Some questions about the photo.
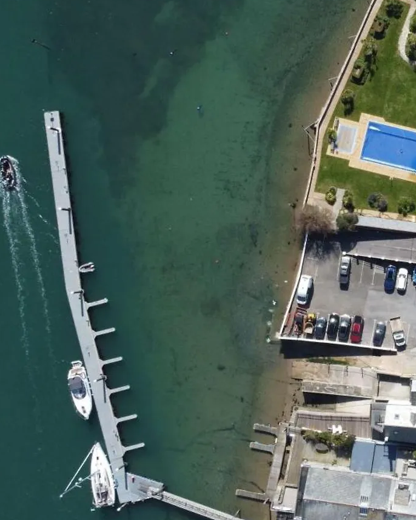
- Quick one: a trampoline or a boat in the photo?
boat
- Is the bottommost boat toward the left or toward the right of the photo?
left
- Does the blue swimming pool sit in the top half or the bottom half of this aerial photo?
top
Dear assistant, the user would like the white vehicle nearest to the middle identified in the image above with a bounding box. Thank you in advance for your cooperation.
[294,277,315,304]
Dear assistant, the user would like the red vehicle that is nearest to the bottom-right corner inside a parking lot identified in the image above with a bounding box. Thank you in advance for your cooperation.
[349,317,366,343]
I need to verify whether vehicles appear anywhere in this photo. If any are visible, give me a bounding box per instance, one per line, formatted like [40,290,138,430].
[339,257,352,286]
[396,269,409,292]
[325,313,340,341]
[386,318,406,349]
[294,277,315,304]
[372,321,388,345]
[303,317,315,339]
[291,305,303,334]
[383,266,397,291]
[315,317,328,339]
[338,316,352,343]
[349,317,366,343]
